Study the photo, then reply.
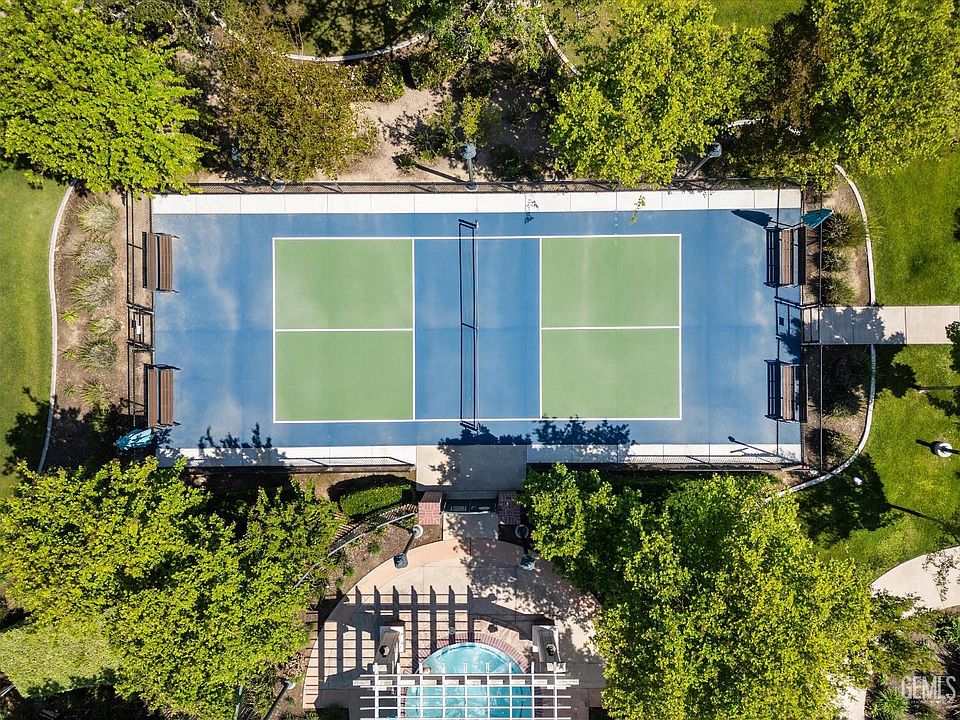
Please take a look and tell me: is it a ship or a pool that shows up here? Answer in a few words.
pool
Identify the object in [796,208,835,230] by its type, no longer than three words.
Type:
umbrella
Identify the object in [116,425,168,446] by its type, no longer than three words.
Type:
umbrella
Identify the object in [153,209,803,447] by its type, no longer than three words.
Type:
sports court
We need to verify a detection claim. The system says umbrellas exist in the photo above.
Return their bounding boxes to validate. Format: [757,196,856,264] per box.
[116,425,168,446]
[796,208,835,230]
